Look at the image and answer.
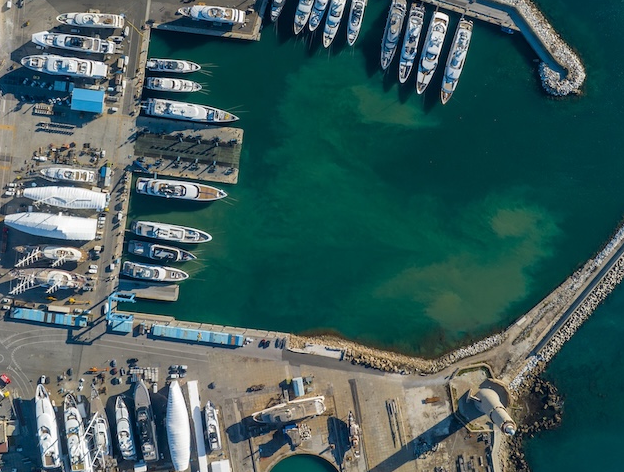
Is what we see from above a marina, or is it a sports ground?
marina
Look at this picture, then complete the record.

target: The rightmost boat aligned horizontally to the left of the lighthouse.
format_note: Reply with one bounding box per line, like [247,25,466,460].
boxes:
[252,394,329,421]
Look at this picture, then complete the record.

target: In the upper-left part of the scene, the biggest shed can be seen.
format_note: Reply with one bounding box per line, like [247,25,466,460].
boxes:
[70,87,109,113]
